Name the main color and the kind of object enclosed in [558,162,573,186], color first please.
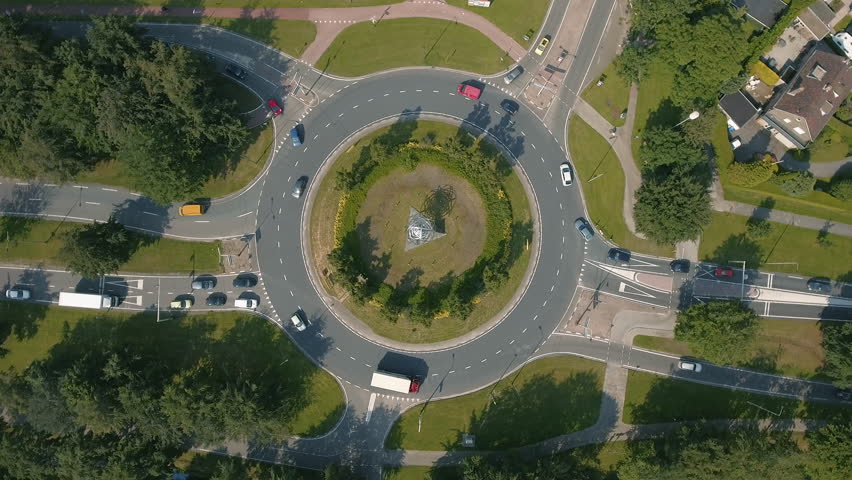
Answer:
white car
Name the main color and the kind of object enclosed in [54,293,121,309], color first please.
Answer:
white vehicle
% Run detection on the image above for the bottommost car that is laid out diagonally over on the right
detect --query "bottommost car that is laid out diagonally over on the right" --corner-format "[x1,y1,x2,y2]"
[573,218,594,240]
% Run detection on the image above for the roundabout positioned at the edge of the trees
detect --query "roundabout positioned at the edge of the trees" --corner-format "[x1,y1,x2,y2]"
[257,72,582,396]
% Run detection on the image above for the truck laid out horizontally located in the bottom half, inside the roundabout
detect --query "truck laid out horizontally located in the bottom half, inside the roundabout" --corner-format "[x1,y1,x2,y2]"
[369,370,422,396]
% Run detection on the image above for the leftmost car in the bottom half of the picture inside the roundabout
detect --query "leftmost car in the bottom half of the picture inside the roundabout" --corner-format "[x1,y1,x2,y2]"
[289,310,308,331]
